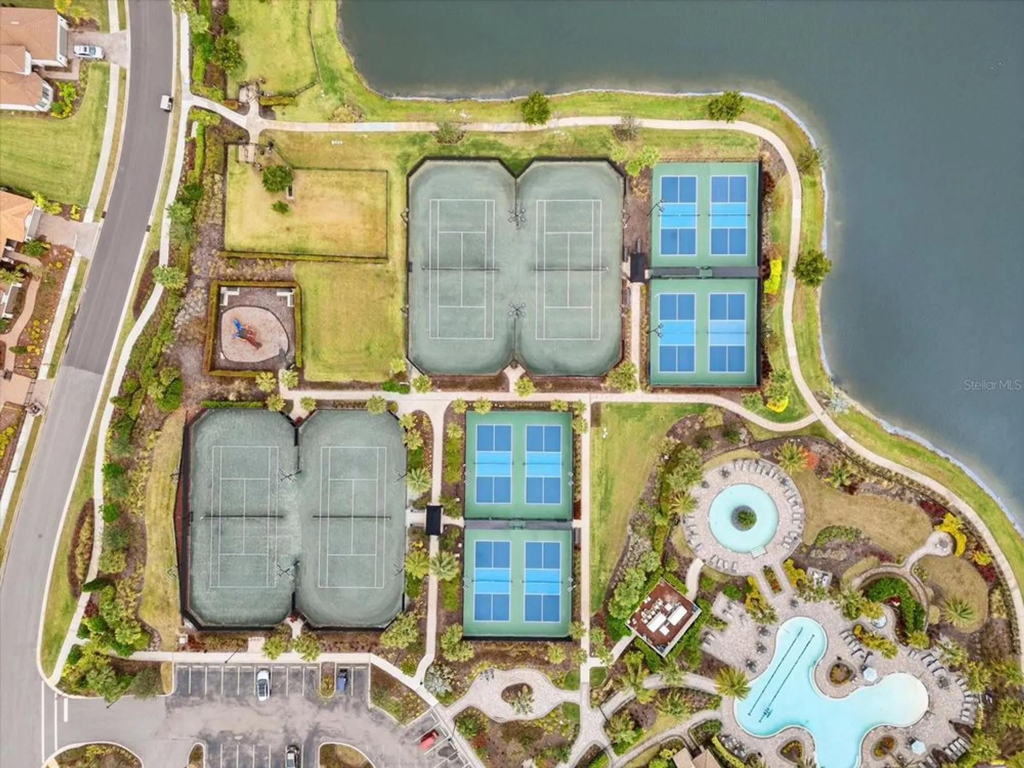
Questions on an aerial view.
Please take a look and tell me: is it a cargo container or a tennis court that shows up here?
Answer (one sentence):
Looking from above, you can make out a tennis court.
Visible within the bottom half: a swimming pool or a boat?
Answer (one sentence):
The one visible within the bottom half is a swimming pool.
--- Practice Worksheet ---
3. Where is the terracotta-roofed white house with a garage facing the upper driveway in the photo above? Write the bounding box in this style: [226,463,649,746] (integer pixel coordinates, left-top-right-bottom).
[0,7,67,111]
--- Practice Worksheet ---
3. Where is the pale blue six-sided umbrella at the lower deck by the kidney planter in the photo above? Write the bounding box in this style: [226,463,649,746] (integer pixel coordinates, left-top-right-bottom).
[908,737,925,753]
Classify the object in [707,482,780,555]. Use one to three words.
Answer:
swimming pool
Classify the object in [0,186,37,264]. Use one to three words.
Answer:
house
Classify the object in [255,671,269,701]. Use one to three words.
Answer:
car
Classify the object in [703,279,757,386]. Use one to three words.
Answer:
sports court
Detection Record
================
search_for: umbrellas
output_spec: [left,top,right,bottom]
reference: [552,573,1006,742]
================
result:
[908,737,925,753]
[862,666,877,681]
